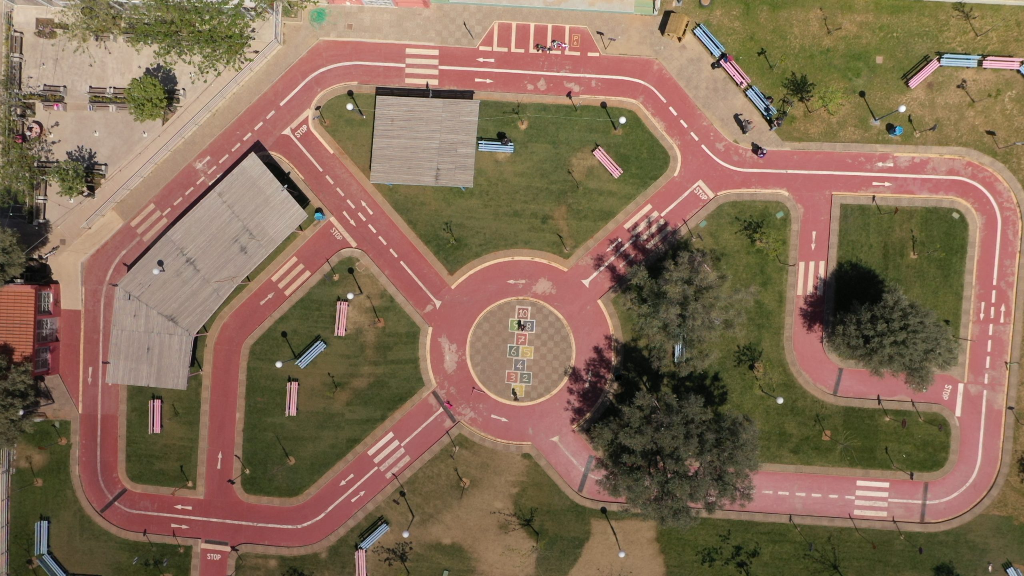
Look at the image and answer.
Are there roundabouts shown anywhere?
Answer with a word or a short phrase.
Yes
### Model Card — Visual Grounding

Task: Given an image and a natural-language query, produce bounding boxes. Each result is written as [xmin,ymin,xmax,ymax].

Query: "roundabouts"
[428,258,614,444]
